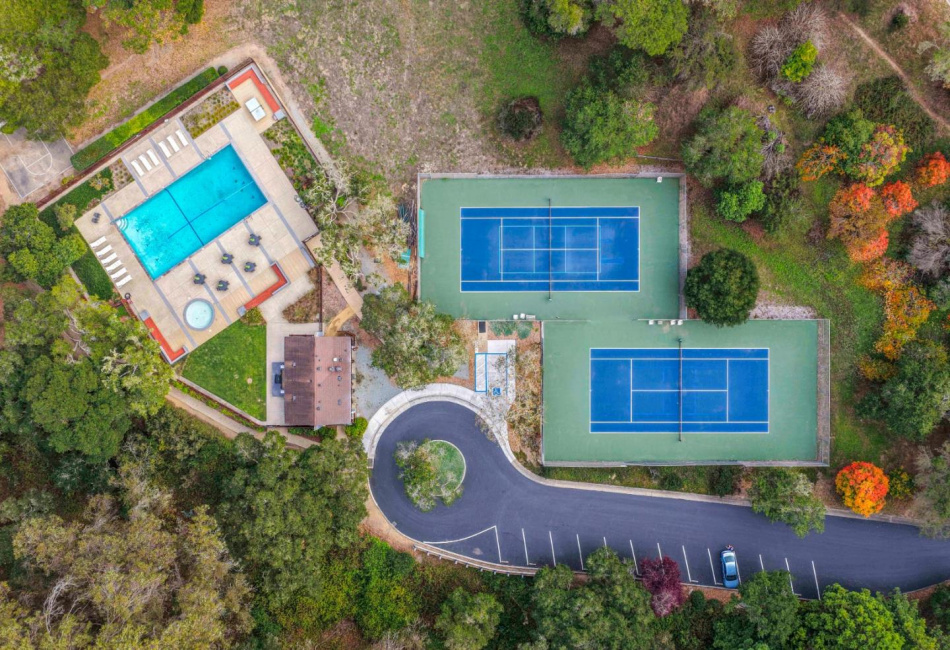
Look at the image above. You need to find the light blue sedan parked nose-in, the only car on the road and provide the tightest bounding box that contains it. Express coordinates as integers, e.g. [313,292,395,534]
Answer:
[723,552,742,591]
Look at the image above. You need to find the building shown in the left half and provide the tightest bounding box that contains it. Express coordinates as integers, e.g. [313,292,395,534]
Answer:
[284,333,352,429]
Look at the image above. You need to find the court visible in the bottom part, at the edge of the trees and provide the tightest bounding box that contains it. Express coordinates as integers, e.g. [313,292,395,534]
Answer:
[545,320,818,463]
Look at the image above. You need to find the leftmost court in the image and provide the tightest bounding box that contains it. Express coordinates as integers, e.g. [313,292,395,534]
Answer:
[0,106,73,198]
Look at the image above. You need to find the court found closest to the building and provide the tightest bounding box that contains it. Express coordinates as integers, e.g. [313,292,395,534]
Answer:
[421,178,681,320]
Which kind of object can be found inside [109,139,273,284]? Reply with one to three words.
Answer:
swimming pool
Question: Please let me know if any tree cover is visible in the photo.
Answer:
Yes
